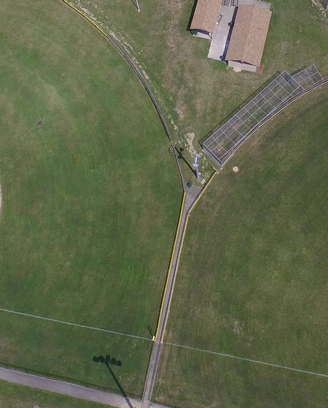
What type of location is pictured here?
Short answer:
sports ground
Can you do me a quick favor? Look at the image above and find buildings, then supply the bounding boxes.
[190,0,223,39]
[226,5,270,70]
